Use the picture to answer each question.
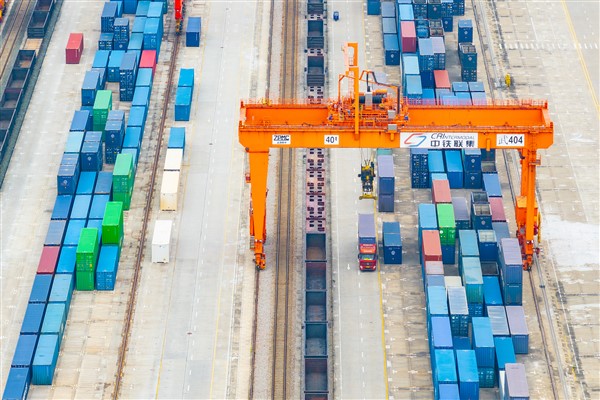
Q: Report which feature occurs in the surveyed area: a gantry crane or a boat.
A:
gantry crane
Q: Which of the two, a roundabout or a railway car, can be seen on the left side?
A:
railway car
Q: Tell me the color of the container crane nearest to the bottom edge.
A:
orange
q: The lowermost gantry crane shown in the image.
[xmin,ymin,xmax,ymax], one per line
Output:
[240,43,554,269]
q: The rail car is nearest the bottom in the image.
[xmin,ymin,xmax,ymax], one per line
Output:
[305,220,325,233]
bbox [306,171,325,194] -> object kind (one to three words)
rail car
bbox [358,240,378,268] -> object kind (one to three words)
vehicle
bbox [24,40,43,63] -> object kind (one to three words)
rail car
